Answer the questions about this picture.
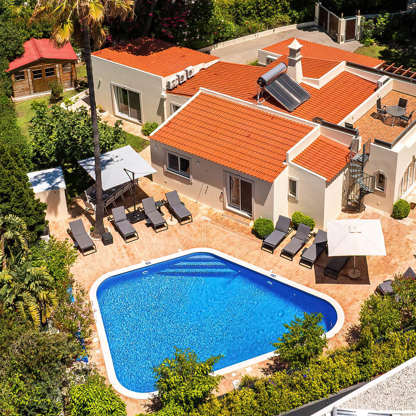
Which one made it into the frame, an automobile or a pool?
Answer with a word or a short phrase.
pool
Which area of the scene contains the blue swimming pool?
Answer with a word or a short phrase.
bottom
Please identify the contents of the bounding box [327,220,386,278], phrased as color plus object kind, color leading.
white umbrella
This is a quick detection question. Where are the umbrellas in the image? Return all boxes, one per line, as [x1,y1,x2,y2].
[78,146,156,223]
[327,220,386,278]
